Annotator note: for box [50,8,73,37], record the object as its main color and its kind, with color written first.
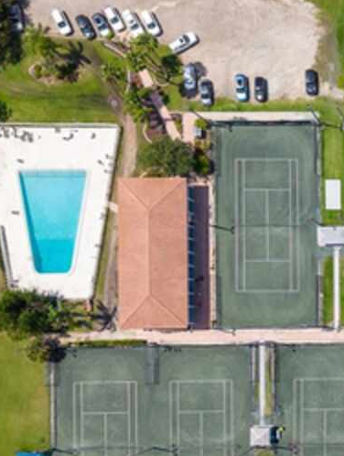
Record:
white car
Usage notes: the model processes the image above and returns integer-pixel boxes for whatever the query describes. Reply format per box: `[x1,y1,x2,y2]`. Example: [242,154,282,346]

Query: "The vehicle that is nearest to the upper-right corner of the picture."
[304,69,317,96]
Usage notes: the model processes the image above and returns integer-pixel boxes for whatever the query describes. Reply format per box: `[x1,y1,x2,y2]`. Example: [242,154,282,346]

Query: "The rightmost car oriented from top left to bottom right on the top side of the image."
[139,10,160,37]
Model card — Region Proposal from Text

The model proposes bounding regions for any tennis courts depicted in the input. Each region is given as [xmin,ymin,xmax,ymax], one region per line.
[51,345,152,456]
[151,345,255,456]
[272,343,344,456]
[215,121,318,328]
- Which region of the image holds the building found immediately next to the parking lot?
center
